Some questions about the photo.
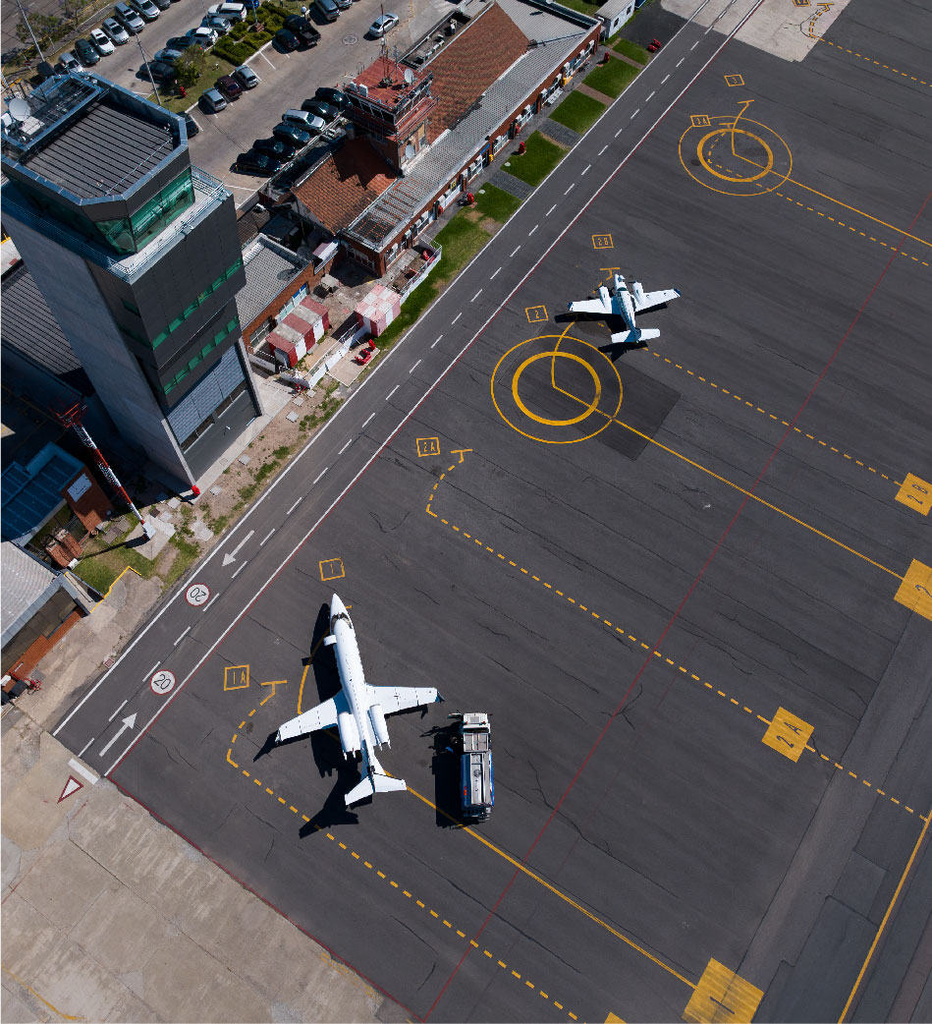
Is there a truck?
Yes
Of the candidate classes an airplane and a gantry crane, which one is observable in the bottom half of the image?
airplane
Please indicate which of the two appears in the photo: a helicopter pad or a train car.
helicopter pad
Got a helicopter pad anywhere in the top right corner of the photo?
Yes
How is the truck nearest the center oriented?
up and down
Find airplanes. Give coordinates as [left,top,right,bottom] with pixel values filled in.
[567,271,683,343]
[276,594,443,805]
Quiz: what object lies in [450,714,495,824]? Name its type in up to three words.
truck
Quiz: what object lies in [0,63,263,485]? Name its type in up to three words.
building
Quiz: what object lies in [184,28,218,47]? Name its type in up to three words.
car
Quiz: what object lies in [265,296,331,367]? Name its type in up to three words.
shed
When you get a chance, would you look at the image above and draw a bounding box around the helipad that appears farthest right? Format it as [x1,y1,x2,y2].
[679,115,792,196]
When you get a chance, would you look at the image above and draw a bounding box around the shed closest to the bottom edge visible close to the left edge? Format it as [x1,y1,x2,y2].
[0,527,89,696]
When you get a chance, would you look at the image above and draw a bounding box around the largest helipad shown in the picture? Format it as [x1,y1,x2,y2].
[491,334,623,444]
